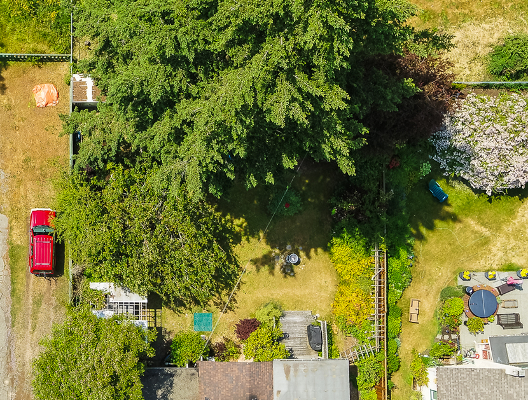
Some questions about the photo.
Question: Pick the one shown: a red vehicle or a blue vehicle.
red vehicle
